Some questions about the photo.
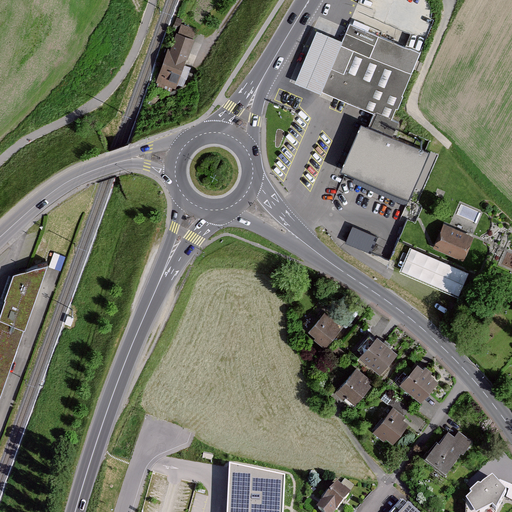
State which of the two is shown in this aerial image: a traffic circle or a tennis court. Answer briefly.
traffic circle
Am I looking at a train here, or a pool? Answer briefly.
pool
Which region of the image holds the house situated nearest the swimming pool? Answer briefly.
right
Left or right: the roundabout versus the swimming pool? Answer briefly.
to its left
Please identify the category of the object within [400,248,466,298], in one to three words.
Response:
building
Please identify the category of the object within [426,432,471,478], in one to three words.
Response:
house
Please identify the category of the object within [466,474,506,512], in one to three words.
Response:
house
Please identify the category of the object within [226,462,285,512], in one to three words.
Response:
building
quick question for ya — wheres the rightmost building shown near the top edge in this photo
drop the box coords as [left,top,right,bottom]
[322,24,421,119]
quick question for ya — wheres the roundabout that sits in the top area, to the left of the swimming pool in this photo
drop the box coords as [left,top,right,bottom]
[162,120,266,223]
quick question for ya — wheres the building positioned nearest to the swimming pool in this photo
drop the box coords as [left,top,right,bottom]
[433,222,474,261]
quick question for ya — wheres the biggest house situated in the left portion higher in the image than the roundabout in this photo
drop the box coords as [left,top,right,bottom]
[157,34,194,90]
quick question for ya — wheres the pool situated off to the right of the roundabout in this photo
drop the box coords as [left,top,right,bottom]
[451,202,482,233]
